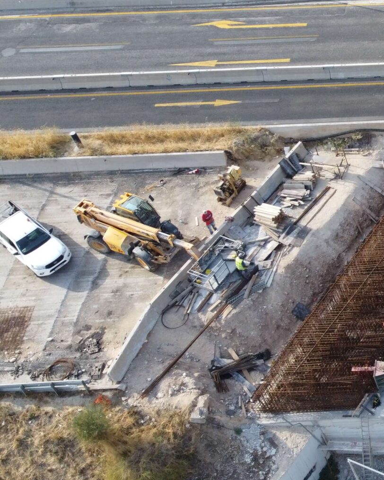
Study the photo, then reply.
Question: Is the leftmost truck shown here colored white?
Yes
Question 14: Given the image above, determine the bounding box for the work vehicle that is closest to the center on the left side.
[66,193,213,275]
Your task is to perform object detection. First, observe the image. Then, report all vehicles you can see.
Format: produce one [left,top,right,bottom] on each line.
[0,202,69,280]
[66,193,213,275]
